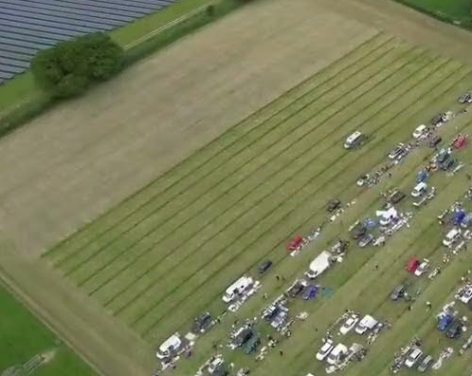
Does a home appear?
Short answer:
No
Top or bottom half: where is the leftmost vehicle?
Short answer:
bottom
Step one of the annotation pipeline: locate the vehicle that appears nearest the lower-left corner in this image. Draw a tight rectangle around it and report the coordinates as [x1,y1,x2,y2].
[157,332,184,358]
